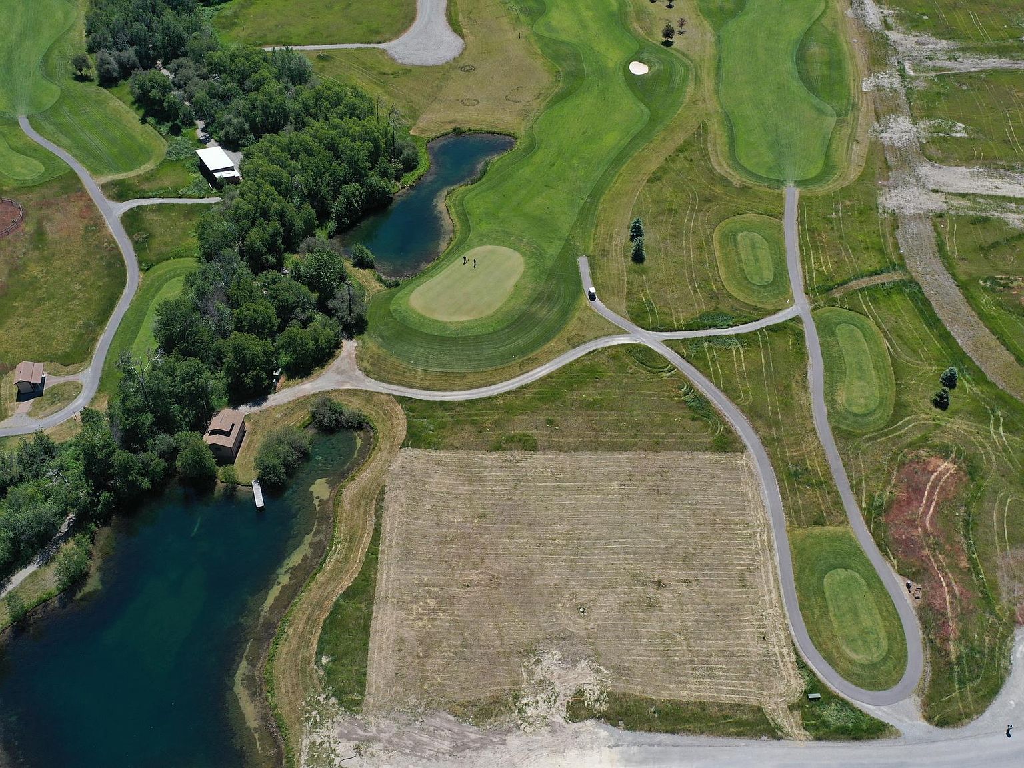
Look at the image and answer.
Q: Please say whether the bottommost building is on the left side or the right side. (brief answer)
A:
left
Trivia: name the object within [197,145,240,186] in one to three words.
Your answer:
shed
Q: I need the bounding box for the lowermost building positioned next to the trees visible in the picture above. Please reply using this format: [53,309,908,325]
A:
[203,412,254,459]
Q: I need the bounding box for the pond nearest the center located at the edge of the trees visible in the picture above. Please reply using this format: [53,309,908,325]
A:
[334,137,514,278]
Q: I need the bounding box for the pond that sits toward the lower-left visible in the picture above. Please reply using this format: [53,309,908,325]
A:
[0,429,375,768]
